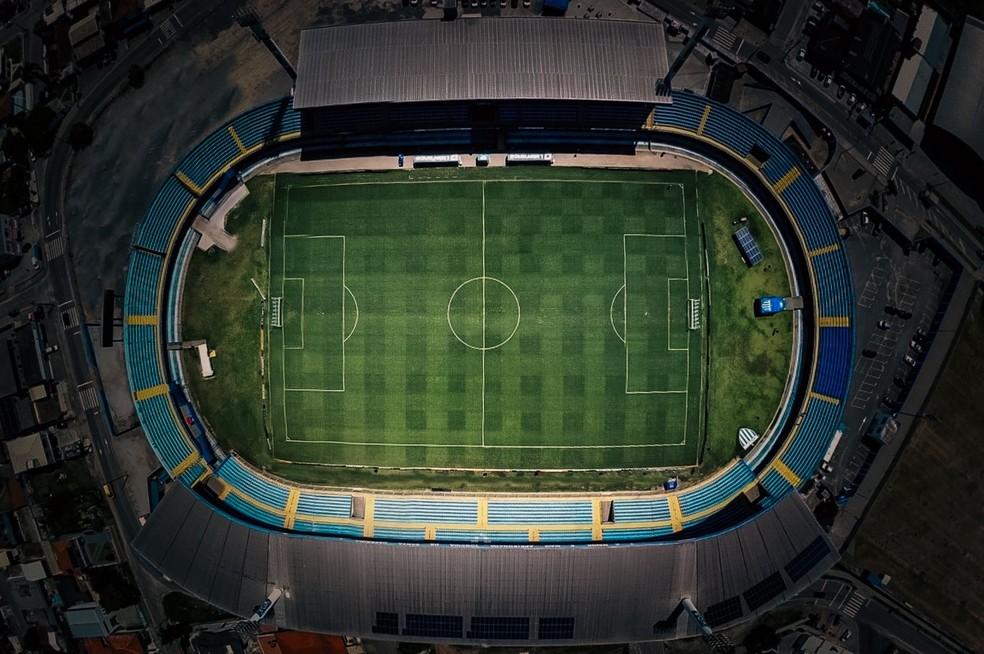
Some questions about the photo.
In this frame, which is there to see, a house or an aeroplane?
house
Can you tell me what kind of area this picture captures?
sports ground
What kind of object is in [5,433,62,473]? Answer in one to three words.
house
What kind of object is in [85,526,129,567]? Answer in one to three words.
house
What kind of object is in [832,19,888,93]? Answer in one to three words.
building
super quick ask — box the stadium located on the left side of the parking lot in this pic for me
[120,17,859,648]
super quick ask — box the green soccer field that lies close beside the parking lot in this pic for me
[269,170,705,467]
